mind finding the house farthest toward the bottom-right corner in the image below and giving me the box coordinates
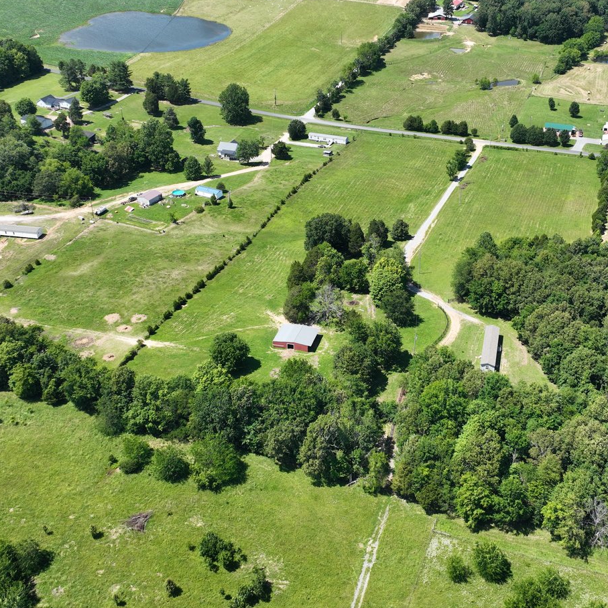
[477,322,507,371]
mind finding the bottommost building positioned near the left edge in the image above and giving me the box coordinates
[0,223,44,238]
